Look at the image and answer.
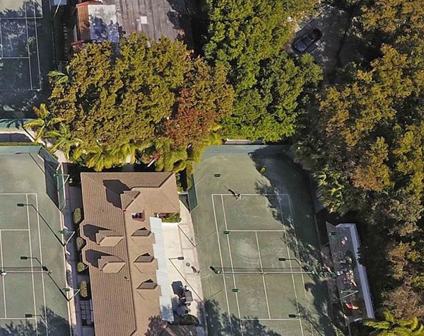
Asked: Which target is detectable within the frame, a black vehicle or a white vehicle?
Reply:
black vehicle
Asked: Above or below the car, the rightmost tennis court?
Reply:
below it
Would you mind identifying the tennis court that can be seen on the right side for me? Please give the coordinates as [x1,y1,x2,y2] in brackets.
[188,154,337,336]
